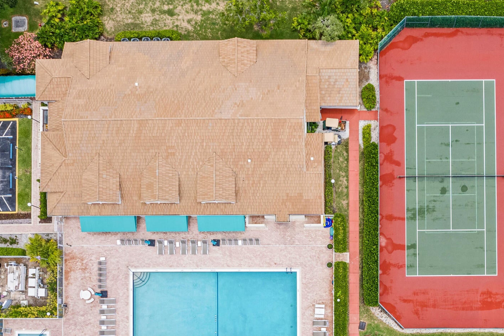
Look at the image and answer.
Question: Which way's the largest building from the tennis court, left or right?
left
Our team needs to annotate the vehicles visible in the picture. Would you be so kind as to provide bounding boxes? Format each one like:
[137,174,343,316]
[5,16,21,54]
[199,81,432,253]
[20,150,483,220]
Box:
[323,116,347,130]
[322,130,343,144]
